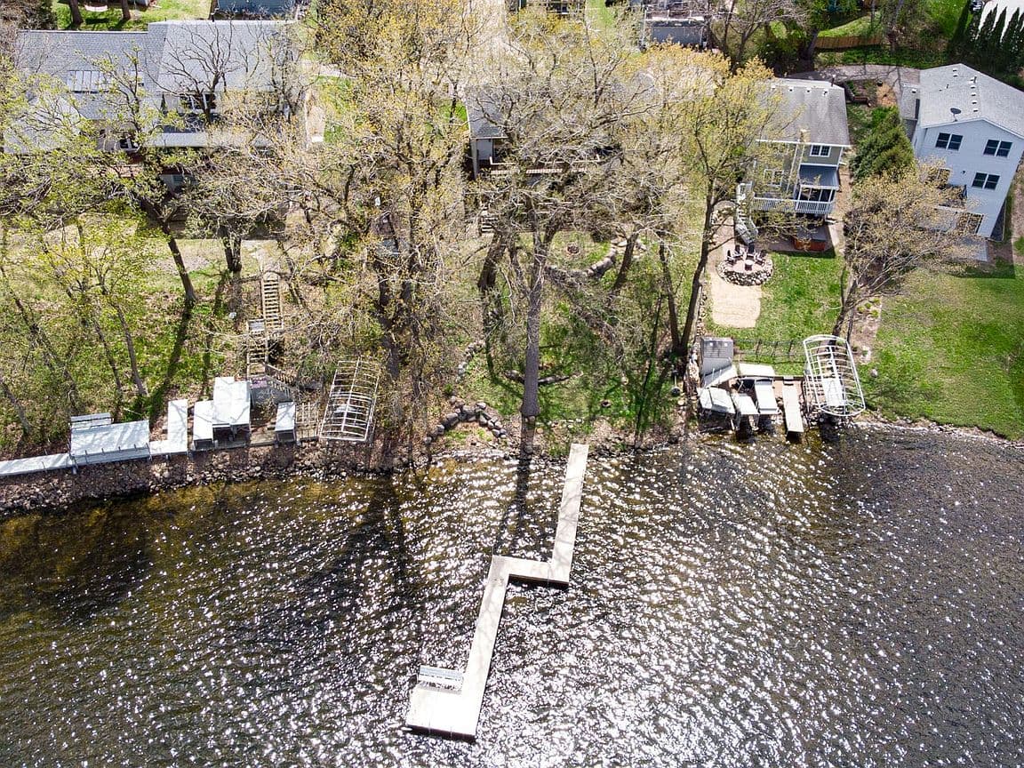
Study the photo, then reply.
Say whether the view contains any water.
Yes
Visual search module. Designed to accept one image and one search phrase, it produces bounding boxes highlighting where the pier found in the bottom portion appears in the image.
[403,442,589,749]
